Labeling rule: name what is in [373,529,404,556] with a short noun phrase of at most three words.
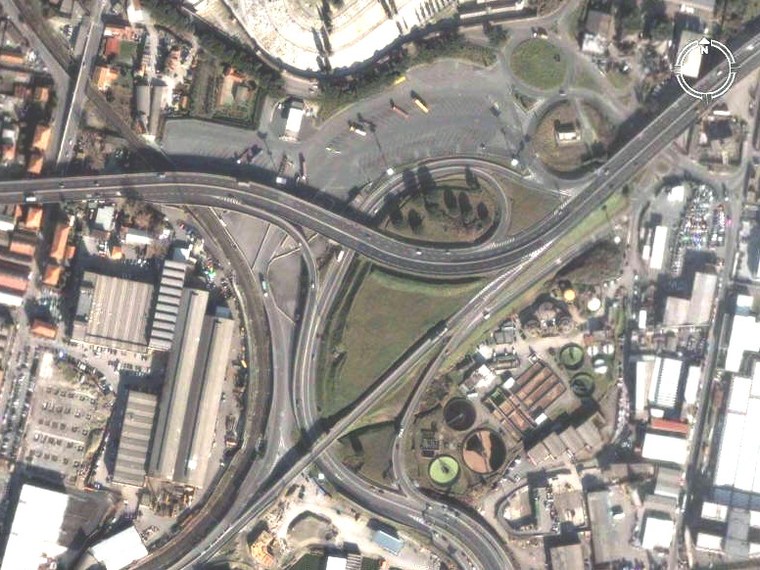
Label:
shed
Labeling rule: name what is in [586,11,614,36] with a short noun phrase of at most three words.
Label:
house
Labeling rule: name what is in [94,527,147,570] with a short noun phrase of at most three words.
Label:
building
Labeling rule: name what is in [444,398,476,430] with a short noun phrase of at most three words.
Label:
storage tank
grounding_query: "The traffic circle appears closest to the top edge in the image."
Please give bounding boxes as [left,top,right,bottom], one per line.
[501,25,577,101]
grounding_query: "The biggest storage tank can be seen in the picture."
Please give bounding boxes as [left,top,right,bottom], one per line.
[462,429,507,473]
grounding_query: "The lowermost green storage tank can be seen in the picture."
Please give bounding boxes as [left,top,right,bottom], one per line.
[430,454,459,484]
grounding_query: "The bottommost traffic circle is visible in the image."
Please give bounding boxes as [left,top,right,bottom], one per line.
[526,89,618,178]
